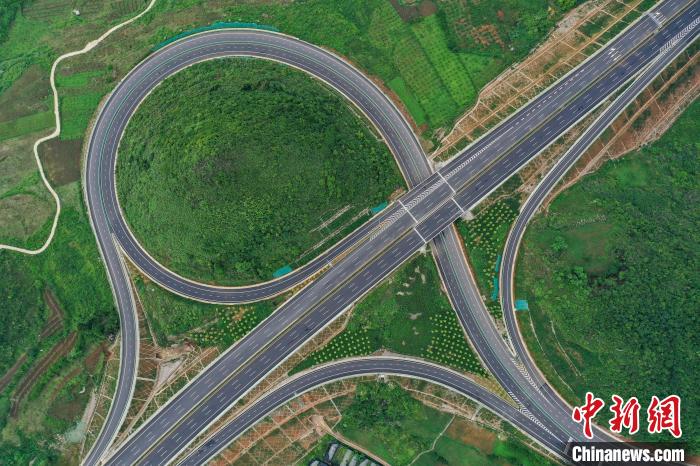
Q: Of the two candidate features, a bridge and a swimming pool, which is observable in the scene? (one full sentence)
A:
The one in the frame is a bridge.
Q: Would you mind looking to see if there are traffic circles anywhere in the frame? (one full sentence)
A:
No, no traffic circle is visible in the scene.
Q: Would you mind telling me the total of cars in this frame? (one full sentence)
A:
The photo contains no cars.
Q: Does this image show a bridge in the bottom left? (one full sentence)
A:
No, looking in the bottom left, there is no bridge.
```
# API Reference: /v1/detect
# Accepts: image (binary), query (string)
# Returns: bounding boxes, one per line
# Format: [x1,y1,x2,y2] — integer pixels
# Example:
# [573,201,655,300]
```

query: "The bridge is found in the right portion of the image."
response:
[395,173,467,242]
